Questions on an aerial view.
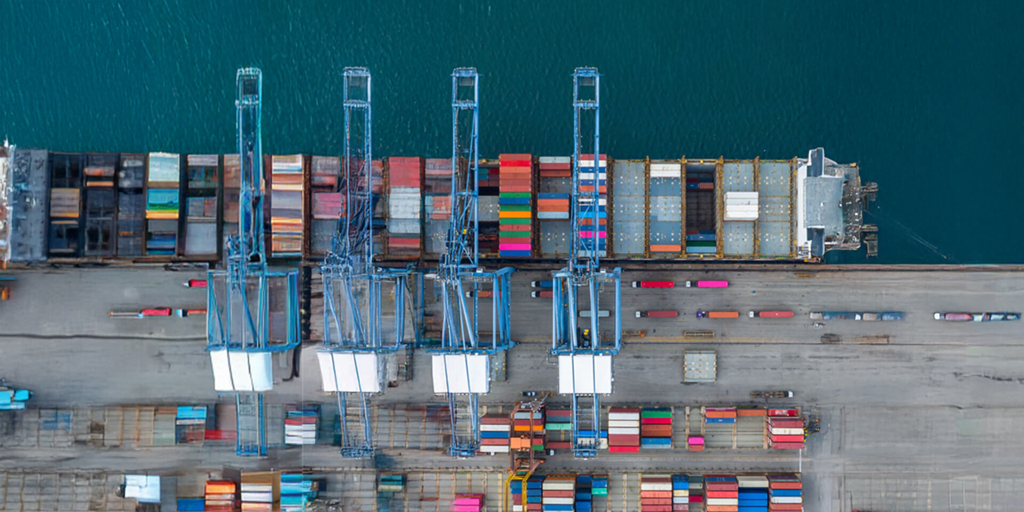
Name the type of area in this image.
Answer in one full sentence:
The picture captures a port.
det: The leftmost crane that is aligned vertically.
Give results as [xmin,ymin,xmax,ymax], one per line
[199,67,324,455]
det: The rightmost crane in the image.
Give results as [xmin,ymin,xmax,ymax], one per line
[543,68,629,457]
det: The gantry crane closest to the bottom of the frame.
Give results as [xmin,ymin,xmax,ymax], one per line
[509,463,537,512]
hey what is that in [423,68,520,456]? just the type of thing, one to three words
container crane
